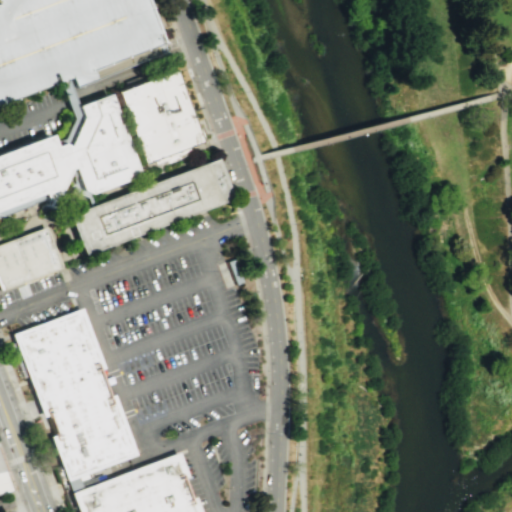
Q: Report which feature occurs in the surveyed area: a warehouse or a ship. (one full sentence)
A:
The image shows a warehouse.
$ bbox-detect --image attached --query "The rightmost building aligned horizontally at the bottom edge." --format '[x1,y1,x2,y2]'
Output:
[75,449,207,512]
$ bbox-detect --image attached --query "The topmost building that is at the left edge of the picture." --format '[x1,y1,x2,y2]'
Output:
[0,0,168,100]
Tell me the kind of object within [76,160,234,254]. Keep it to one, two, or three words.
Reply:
building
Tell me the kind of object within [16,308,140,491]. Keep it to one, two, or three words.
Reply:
warehouse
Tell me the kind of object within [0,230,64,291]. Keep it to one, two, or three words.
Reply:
building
